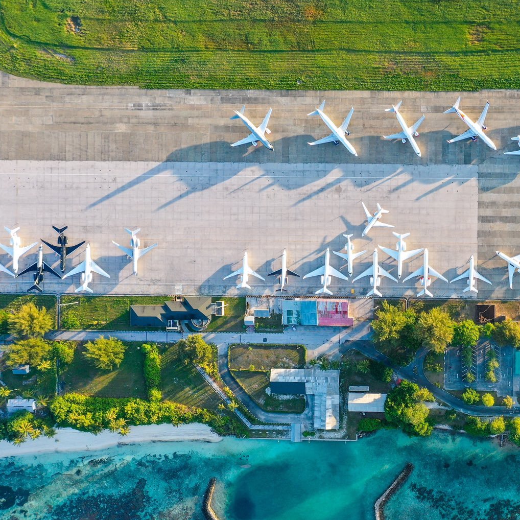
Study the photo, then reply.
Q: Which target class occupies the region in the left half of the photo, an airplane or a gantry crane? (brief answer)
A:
airplane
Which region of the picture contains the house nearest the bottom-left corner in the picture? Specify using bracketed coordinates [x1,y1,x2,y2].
[6,398,37,413]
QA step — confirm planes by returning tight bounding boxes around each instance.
[362,201,395,236]
[112,228,158,275]
[377,232,423,278]
[334,235,367,277]
[384,102,425,156]
[446,98,497,150]
[404,249,448,296]
[39,226,85,272]
[17,245,63,292]
[304,248,350,296]
[229,102,274,150]
[63,244,111,291]
[309,102,358,156]
[352,249,398,296]
[269,250,300,291]
[0,227,38,273]
[225,251,266,289]
[452,255,493,293]
[497,251,520,288]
